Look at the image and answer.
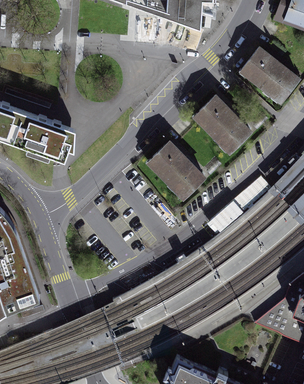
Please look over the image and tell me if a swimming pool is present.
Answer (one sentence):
No, no swimming pool is visible in the scene.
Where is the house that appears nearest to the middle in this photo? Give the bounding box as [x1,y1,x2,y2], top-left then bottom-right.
[146,140,207,202]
